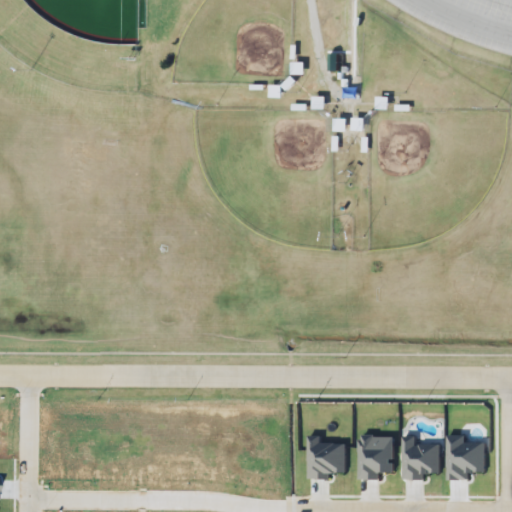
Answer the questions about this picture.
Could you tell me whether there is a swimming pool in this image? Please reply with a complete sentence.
Yes, I can see a swimming pool in this picture.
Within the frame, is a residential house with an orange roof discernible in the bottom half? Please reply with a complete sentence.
No, there's no residential house with an orange roof to be seen in the bottom half.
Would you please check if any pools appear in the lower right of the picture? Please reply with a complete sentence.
Yes, in the lower right of the picture there is a pool.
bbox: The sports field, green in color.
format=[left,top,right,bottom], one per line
[26,0,146,44]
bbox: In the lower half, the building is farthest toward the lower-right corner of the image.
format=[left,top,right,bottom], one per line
[446,436,487,480]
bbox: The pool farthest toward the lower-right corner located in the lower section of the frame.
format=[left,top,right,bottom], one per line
[460,423,487,444]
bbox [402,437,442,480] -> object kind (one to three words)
house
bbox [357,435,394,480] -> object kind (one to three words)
house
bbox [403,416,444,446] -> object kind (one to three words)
swimming pool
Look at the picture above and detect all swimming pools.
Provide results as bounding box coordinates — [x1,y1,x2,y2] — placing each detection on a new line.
[403,416,444,446]
[460,423,487,444]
